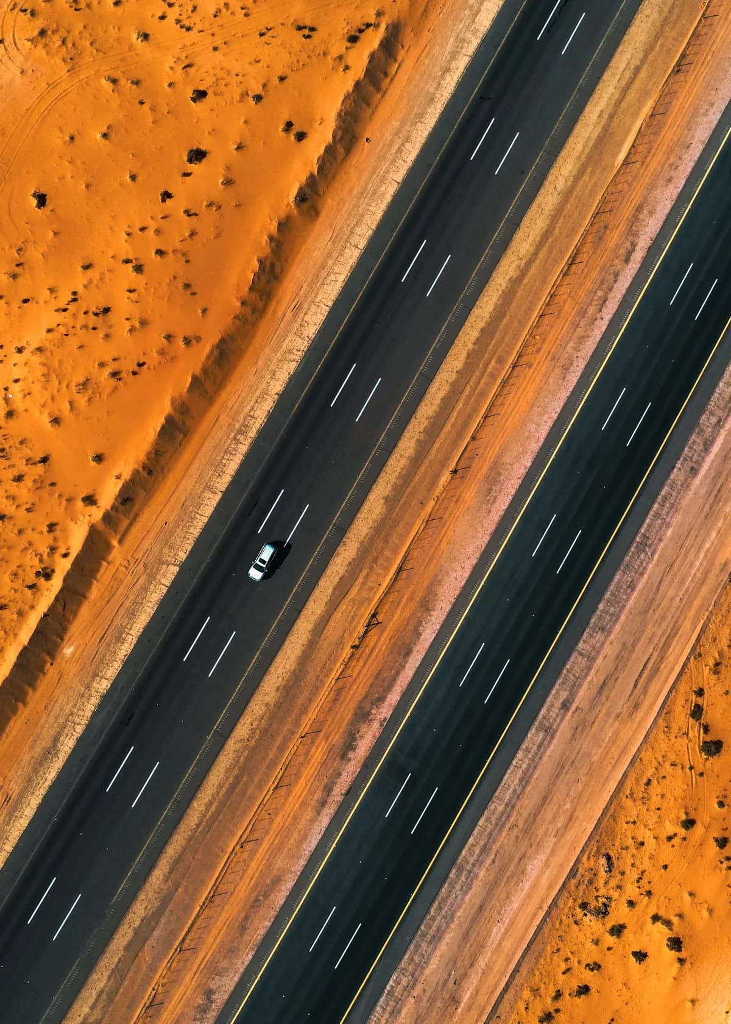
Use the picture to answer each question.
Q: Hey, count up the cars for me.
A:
1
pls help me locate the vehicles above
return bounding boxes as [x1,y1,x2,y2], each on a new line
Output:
[246,541,276,581]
